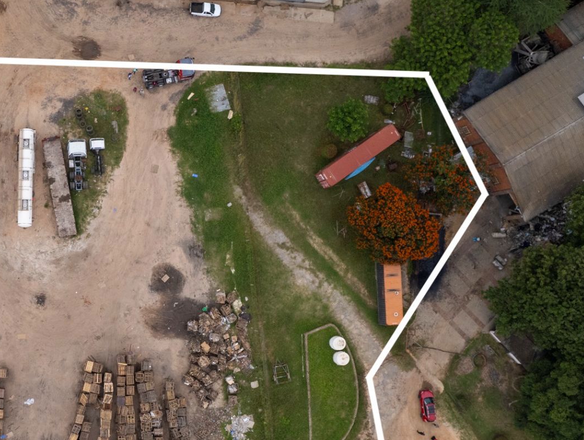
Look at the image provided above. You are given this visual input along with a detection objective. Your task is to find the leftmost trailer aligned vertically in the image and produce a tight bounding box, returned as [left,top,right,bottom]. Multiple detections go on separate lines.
[18,128,36,229]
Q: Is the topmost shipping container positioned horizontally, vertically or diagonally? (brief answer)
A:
diagonally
